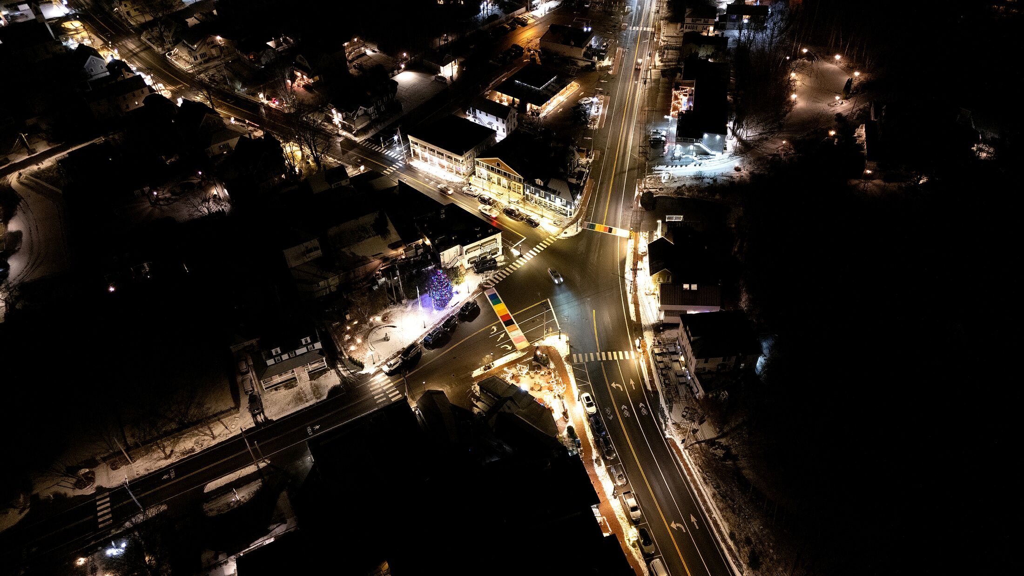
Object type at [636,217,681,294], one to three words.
building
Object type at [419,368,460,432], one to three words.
barn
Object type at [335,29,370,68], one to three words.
house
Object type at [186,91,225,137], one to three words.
house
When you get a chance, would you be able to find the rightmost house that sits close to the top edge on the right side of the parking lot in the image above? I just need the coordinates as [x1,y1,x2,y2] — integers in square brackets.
[718,2,772,30]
